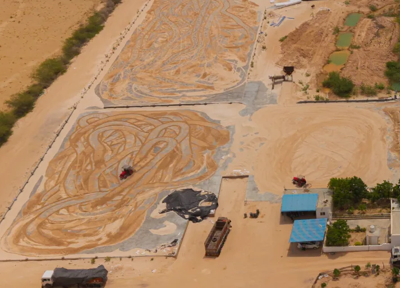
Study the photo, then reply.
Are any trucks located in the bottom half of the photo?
Yes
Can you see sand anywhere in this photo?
Yes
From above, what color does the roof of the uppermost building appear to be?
blue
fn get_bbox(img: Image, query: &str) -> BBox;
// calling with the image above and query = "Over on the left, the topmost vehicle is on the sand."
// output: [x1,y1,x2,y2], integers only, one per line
[117,158,139,176]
